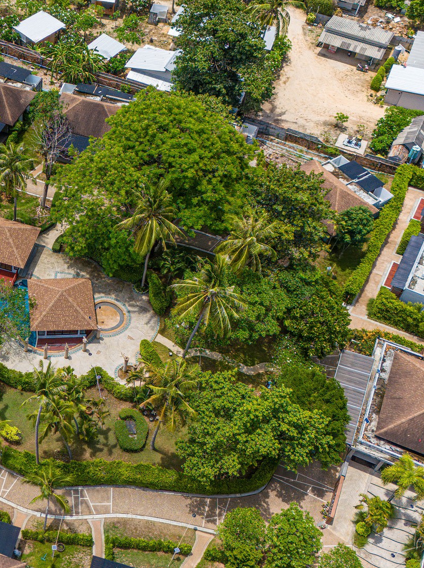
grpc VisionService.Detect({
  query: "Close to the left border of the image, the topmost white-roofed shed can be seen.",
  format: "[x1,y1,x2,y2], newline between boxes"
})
[16,10,65,56]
